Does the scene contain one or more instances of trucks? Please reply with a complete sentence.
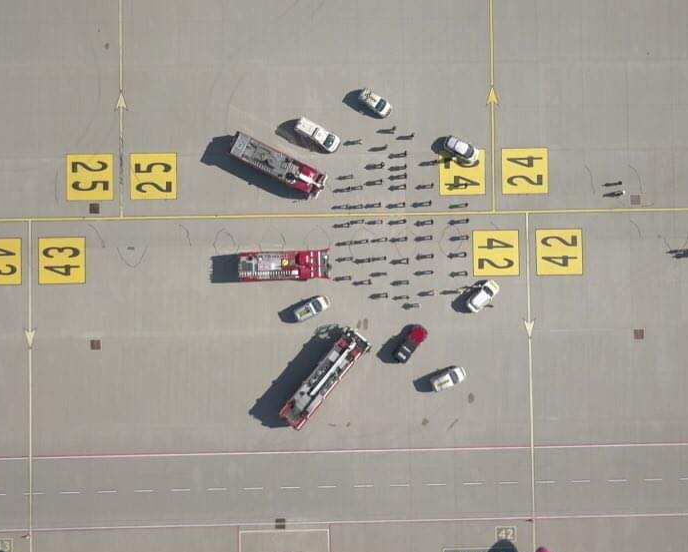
Yes, a truck appears in the view.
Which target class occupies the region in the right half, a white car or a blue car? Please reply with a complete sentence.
The one visible in the right half is a white car.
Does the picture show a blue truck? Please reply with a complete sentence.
No, the photo shows no blue truck.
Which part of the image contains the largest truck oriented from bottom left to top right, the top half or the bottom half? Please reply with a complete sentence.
The bottom half of the photo is where the largest truck oriented from bottom left to top right is.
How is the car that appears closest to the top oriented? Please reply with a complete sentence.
The car that appears closest to the top has been laid out diagonally relative to the frame.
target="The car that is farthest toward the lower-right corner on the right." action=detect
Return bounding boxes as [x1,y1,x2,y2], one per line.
[430,366,467,393]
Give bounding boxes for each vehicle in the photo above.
[294,115,341,154]
[237,247,337,281]
[441,134,480,163]
[394,326,427,365]
[227,129,328,198]
[357,85,393,118]
[430,366,467,393]
[466,279,500,316]
[278,326,370,433]
[292,295,331,323]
